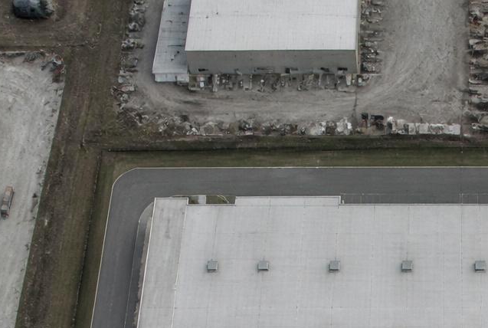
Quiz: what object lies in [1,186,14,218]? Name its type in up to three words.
vehicle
